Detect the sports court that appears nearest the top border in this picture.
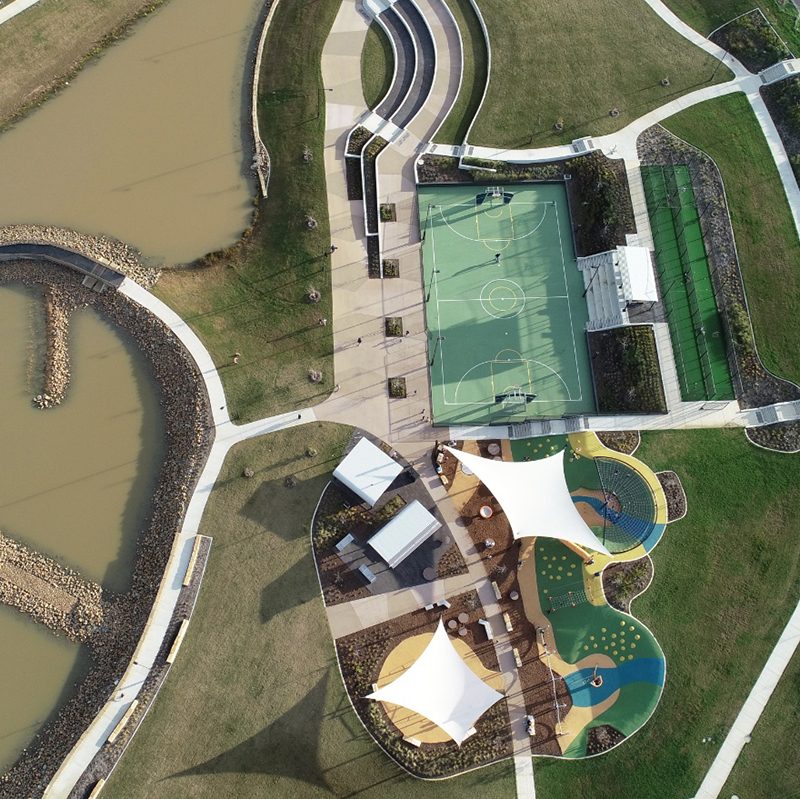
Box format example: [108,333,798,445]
[418,186,594,426]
